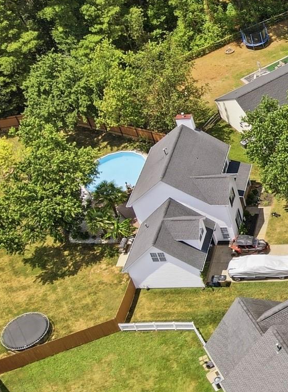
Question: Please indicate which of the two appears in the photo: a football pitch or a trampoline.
trampoline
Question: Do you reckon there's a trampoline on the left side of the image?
Yes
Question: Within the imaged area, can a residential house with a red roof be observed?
No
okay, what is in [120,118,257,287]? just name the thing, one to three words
house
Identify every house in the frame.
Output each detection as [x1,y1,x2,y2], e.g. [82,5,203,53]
[199,295,288,392]
[214,64,288,146]
[120,118,257,287]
